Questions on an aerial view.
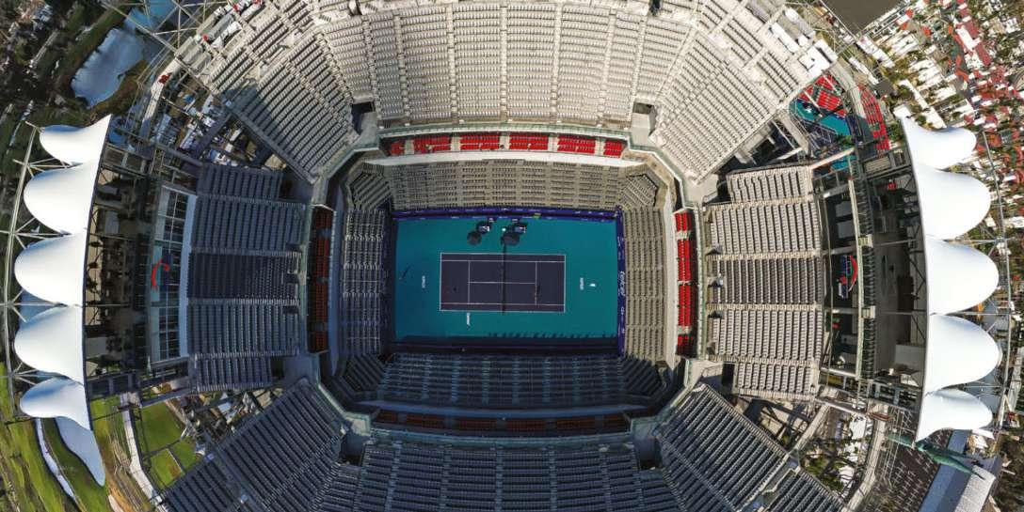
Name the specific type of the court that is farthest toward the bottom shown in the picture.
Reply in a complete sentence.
The court that is farthest toward the bottom is a tennis court.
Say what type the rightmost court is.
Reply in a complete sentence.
From above, the rightmost court can be identified as a tennis court.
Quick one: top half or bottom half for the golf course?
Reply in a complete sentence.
The golf course is in the bottom half of the image.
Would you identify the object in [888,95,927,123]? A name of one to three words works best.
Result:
house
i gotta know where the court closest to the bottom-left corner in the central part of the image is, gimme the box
[389,215,618,352]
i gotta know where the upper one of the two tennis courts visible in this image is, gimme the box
[770,75,894,179]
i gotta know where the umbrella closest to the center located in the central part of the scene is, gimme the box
[503,230,517,244]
